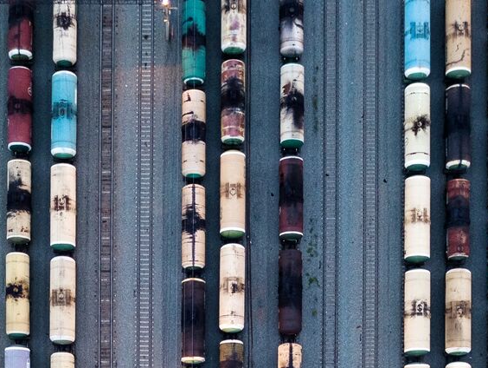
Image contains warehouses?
No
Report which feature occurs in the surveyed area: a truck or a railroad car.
railroad car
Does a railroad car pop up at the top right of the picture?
Yes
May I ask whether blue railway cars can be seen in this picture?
Yes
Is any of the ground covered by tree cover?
No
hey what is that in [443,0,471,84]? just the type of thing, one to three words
rail car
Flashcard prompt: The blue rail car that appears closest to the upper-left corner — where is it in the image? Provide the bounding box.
[50,72,78,164]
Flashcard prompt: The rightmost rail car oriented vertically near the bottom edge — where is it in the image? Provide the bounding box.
[443,267,471,360]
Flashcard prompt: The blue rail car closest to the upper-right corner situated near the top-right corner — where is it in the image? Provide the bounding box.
[404,0,431,84]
